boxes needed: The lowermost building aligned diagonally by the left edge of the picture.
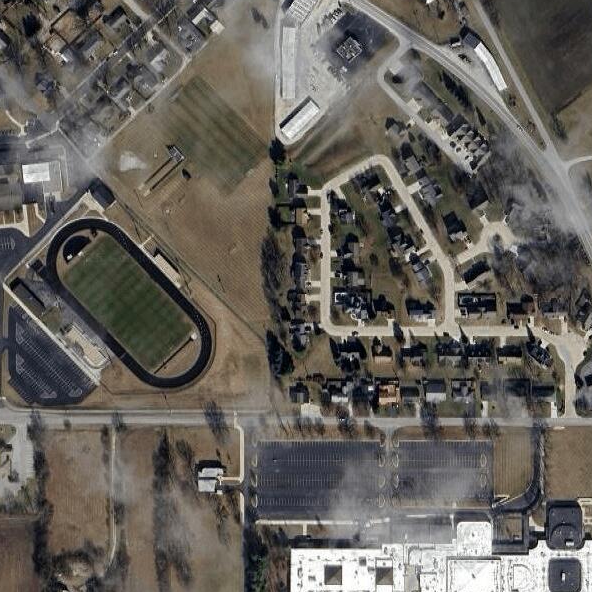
[11,276,46,316]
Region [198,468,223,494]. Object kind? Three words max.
building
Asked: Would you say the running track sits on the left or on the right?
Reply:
left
